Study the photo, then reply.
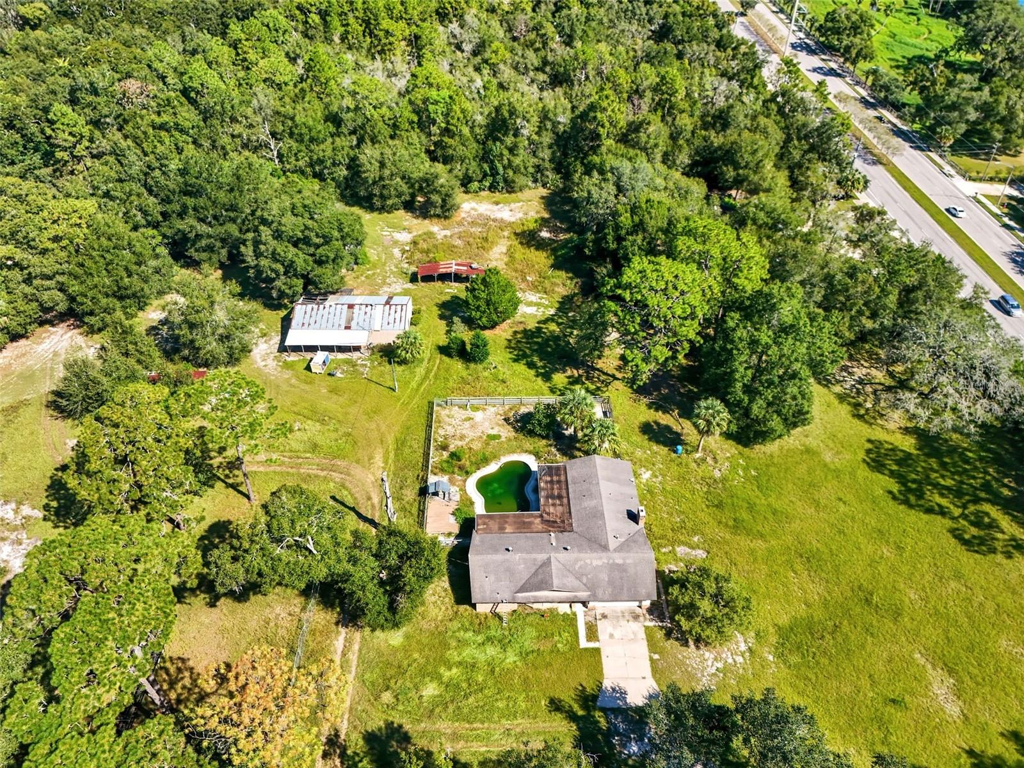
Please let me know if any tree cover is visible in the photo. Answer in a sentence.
Yes, some tree cover is visible.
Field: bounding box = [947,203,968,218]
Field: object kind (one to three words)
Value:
car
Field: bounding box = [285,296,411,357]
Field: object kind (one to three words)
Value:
barn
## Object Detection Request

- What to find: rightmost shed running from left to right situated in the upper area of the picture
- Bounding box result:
[418,261,486,286]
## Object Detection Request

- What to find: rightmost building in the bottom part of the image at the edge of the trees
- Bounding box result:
[469,454,657,616]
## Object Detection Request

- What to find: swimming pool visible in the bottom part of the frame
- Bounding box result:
[465,452,539,512]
